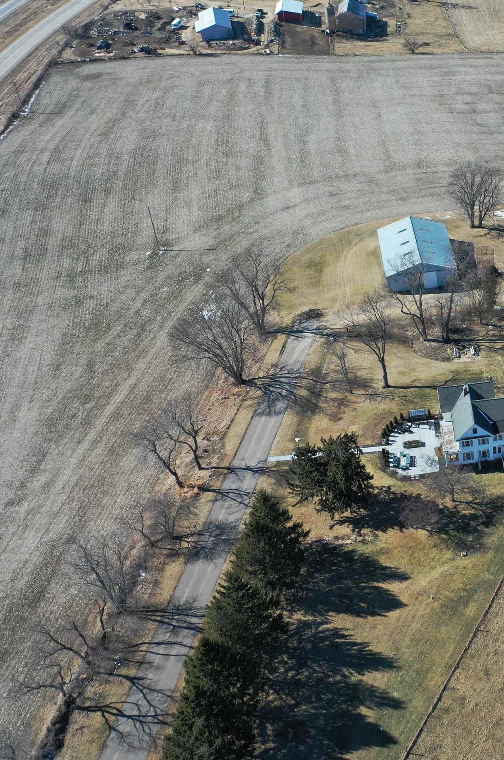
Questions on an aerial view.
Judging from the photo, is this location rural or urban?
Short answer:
rural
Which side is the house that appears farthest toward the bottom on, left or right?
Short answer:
right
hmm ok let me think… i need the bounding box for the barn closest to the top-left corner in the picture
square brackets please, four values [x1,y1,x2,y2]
[191,9,236,42]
